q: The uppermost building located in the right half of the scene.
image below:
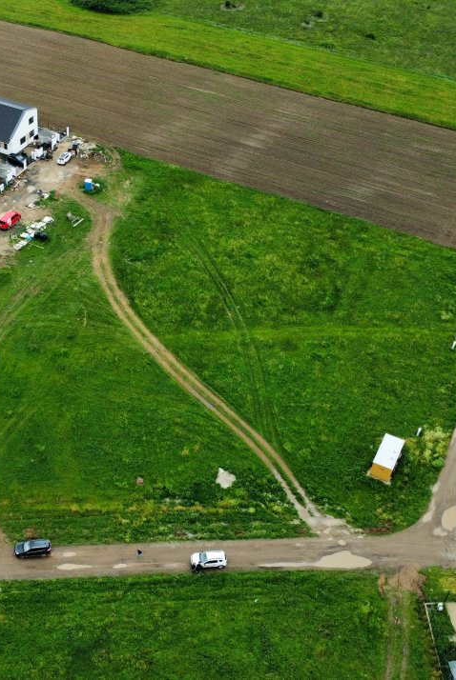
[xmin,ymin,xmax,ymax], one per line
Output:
[371,436,404,484]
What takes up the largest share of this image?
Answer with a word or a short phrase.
grass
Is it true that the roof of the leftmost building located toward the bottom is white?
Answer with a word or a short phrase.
Yes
